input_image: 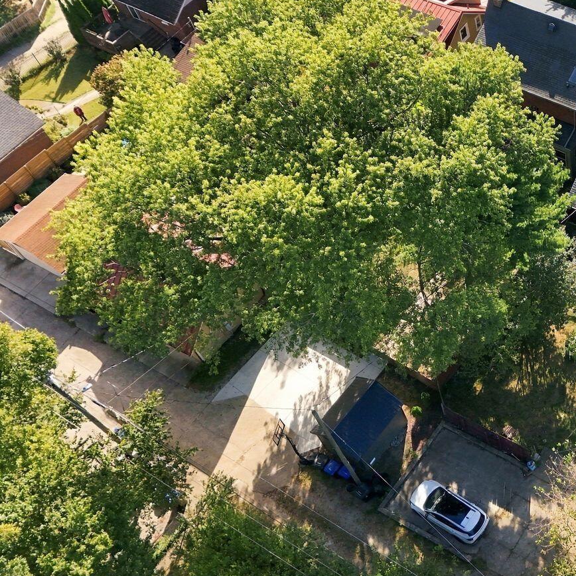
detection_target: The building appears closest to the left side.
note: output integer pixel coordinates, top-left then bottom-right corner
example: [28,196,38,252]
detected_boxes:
[0,96,54,194]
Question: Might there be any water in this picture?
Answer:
No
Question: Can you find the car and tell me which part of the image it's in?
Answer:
bottom right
